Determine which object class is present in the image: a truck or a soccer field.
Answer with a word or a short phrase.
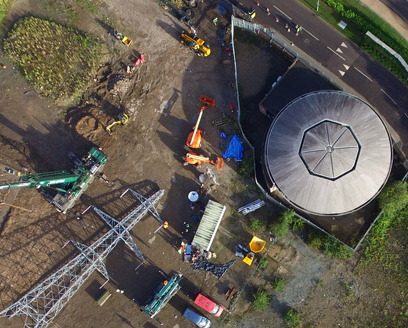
truck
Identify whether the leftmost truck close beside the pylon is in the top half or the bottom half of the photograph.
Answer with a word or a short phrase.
bottom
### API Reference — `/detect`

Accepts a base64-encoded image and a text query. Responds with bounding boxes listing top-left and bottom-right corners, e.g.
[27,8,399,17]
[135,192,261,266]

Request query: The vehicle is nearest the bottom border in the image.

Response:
[183,308,211,328]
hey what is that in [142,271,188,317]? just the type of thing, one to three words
truck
